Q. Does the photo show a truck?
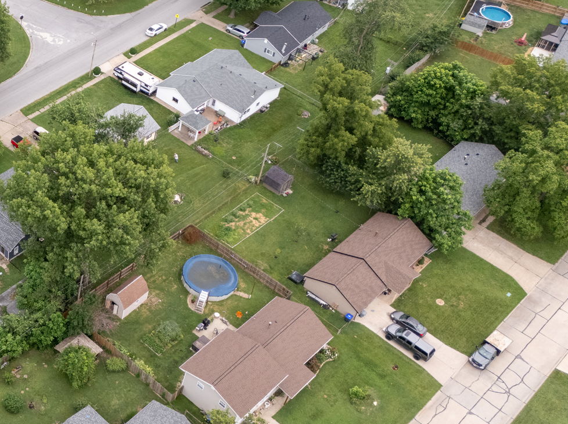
Yes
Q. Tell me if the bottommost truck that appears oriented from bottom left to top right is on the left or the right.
right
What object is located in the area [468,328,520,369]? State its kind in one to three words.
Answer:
truck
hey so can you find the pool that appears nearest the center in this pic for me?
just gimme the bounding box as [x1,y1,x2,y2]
[181,254,239,304]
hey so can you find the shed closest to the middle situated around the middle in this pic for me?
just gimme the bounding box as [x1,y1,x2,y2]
[261,168,294,199]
